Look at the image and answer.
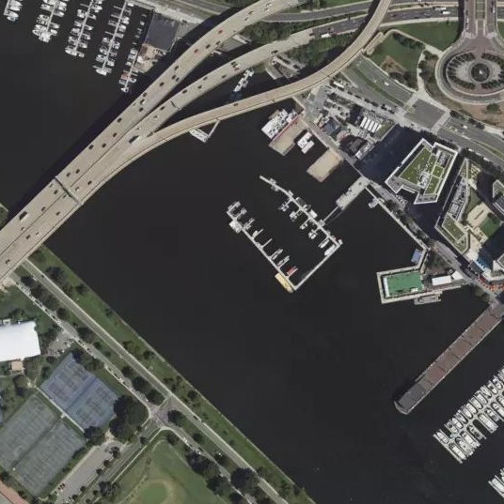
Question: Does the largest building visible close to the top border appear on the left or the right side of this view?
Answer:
left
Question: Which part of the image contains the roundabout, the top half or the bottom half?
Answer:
top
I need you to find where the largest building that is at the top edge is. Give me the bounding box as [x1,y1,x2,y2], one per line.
[145,13,180,51]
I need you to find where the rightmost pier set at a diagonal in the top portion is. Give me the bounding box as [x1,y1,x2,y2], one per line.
[336,177,373,208]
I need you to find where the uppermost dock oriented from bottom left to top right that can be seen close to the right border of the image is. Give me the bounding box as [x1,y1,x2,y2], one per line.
[385,303,503,417]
